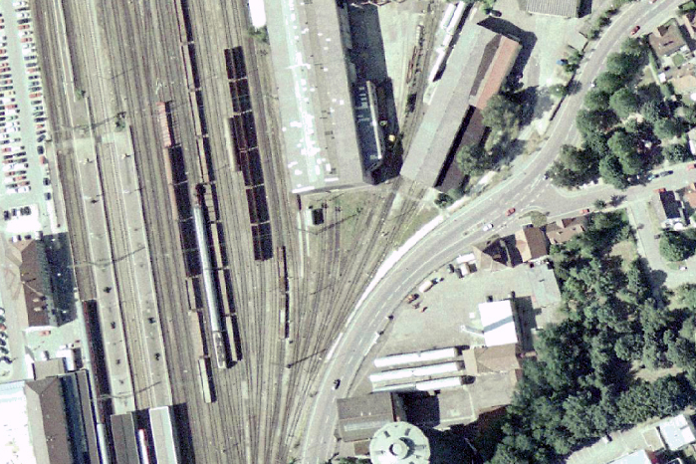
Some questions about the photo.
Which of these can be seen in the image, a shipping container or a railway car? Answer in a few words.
railway car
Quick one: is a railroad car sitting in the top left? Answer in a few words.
Yes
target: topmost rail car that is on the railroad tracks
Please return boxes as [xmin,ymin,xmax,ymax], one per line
[175,0,191,43]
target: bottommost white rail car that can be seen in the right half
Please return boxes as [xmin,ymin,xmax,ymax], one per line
[428,51,446,81]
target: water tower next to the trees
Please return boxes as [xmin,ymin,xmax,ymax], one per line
[370,419,460,464]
